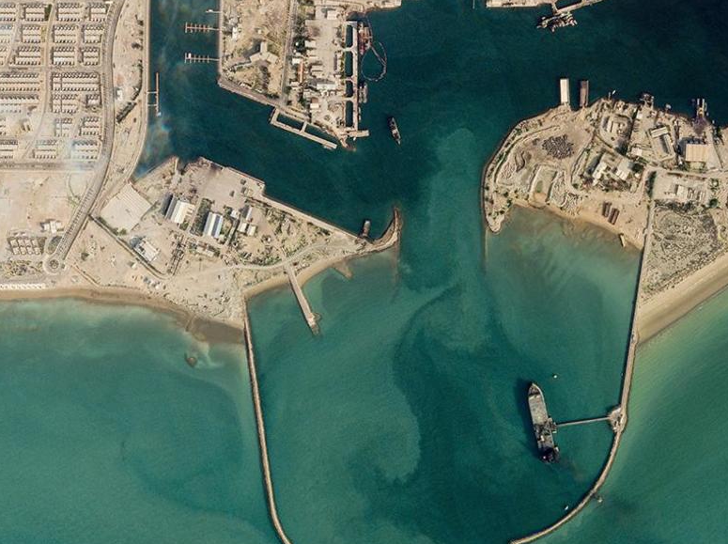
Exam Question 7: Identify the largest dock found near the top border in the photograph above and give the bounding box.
[345,21,357,131]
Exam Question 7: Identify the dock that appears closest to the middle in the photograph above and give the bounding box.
[284,264,318,334]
